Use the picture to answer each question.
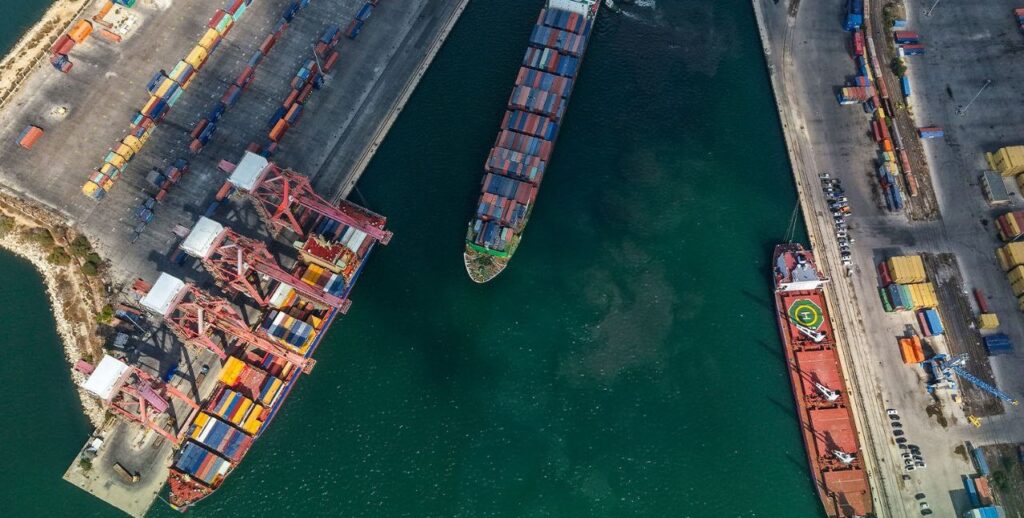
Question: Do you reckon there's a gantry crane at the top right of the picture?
No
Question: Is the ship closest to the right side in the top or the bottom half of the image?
bottom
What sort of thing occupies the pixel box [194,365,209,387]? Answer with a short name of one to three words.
vehicle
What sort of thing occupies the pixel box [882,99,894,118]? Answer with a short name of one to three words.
rail car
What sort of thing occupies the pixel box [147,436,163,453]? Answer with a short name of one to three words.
vehicle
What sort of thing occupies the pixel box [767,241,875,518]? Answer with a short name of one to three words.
ship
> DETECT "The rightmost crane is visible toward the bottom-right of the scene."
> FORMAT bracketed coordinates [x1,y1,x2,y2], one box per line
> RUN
[921,353,1019,408]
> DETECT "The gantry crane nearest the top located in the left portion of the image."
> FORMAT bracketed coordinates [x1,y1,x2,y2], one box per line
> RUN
[218,149,396,243]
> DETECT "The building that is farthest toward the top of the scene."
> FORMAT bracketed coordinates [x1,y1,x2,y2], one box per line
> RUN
[975,172,1010,207]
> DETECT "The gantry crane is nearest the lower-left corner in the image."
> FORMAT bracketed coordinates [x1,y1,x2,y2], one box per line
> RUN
[72,353,202,443]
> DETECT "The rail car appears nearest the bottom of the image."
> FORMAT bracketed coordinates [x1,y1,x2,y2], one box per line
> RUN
[904,172,919,197]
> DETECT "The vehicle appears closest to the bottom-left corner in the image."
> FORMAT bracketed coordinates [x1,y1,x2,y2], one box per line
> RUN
[112,462,136,483]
